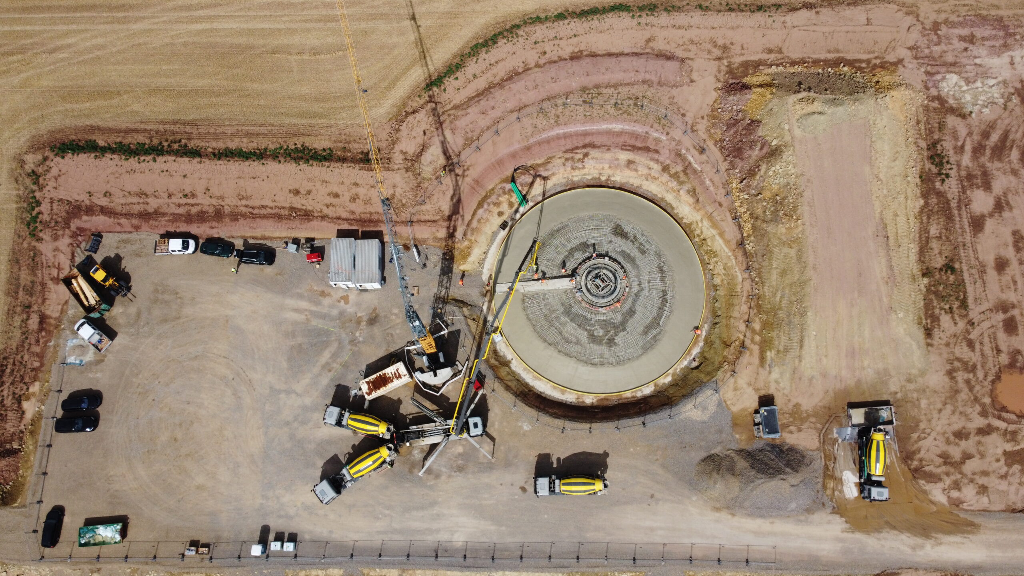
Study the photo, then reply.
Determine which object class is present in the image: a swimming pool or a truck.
truck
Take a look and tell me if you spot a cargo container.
Yes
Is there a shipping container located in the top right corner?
No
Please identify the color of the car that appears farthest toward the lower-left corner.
black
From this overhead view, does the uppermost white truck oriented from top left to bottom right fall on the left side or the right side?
left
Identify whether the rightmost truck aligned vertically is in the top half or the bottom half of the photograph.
bottom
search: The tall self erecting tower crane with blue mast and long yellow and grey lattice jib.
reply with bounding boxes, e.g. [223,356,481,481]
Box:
[334,0,456,384]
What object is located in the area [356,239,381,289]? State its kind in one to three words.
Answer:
shipping container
